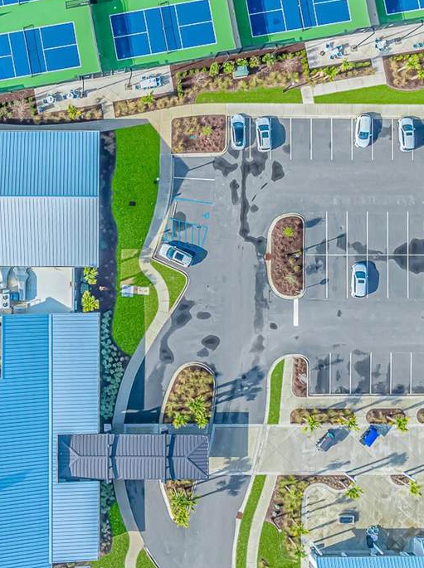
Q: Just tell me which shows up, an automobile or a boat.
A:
automobile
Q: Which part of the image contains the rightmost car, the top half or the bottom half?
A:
top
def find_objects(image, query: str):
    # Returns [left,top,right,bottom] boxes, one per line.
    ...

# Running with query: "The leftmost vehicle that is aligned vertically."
[229,114,247,150]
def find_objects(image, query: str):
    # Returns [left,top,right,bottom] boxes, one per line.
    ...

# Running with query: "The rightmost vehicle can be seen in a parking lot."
[397,117,417,152]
